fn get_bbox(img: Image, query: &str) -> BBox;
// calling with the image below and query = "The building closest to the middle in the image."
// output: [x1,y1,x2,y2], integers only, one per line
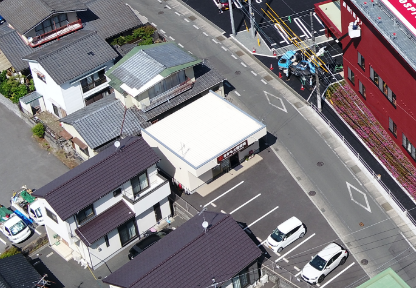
[140,95,272,200]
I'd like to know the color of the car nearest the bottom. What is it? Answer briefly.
white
